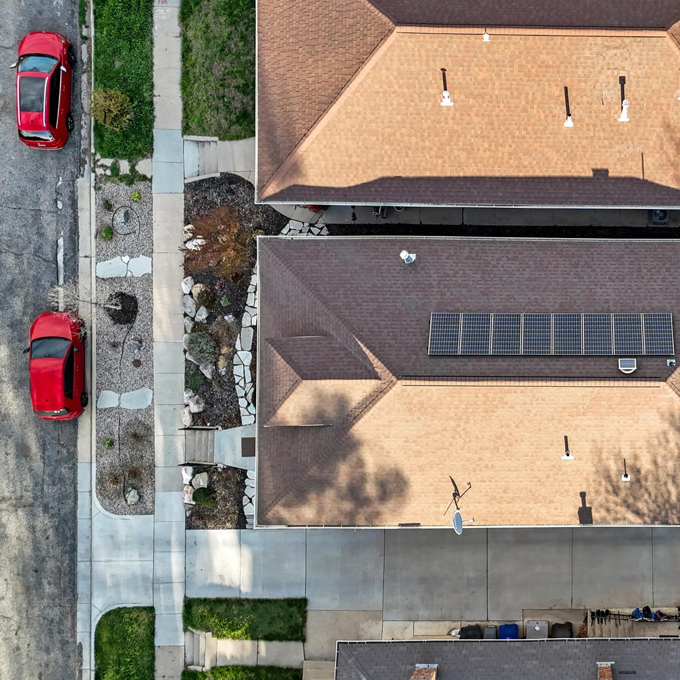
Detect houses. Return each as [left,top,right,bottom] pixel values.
[256,236,680,529]
[297,632,680,680]
[256,0,680,208]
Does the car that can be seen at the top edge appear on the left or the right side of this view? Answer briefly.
left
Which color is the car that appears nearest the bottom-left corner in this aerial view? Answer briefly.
red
